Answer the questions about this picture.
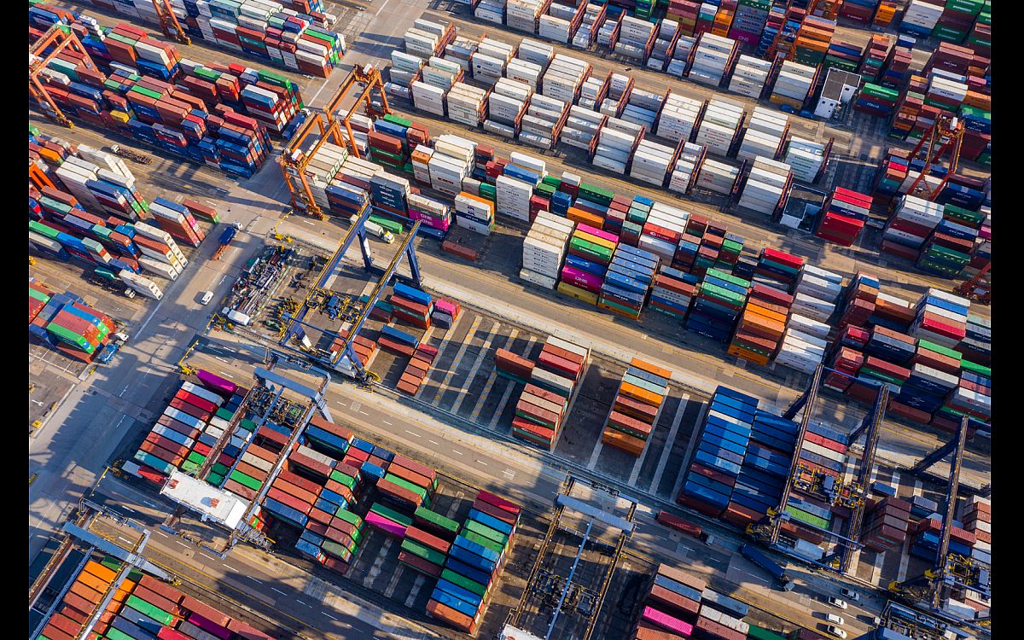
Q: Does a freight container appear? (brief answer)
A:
Yes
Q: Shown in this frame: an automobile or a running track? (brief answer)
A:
automobile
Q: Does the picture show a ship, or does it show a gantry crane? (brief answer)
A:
gantry crane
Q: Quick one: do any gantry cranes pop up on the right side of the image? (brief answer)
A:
Yes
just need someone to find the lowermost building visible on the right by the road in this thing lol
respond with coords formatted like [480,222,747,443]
[780,181,827,229]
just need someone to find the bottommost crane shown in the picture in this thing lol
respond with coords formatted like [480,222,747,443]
[838,600,982,640]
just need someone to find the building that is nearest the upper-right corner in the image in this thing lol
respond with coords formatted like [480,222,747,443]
[813,67,862,119]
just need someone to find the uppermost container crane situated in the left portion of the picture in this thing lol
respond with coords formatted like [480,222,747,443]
[147,0,193,45]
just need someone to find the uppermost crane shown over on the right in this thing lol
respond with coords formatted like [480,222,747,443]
[762,0,822,60]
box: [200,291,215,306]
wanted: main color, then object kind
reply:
white vehicle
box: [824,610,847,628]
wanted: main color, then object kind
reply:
white vehicle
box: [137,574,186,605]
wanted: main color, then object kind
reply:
red shipping container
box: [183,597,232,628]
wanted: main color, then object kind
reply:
red shipping container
